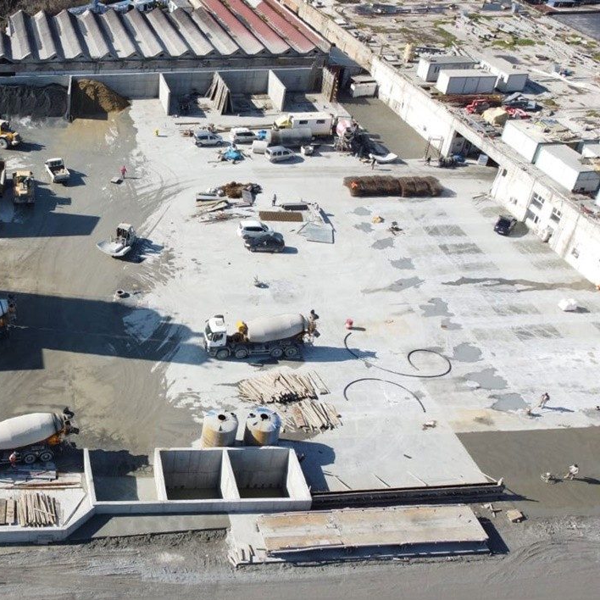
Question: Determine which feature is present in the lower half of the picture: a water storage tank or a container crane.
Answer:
water storage tank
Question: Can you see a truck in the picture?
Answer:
Yes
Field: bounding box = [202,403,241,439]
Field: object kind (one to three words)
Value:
water tank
